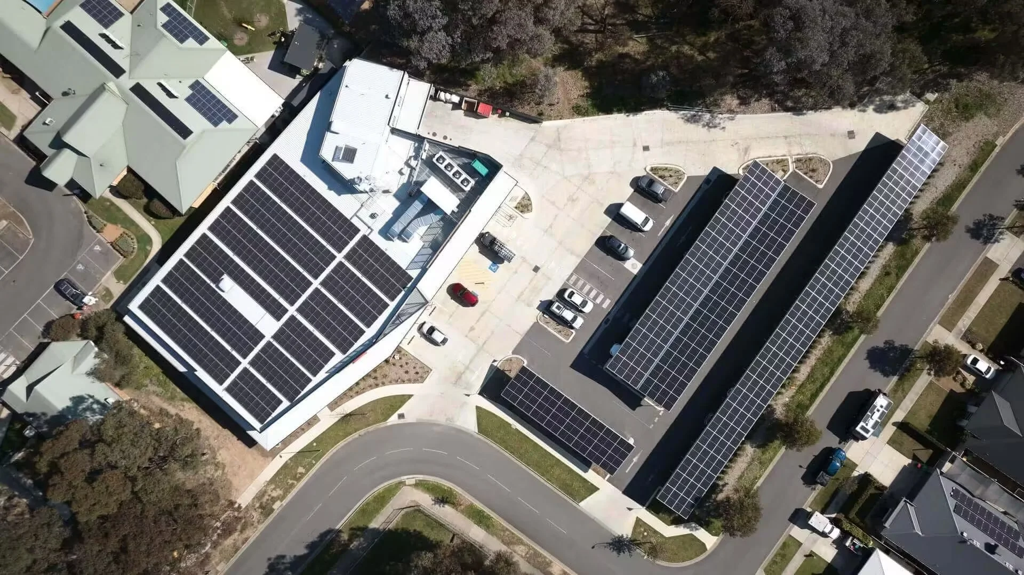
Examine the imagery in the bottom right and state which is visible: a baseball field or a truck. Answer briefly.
truck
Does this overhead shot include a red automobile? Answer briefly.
Yes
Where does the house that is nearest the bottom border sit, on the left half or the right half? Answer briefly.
right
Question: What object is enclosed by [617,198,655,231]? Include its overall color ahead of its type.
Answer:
white van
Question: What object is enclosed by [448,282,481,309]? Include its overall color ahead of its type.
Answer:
red car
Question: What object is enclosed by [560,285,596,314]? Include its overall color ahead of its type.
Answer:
white car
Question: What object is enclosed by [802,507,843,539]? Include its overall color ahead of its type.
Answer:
white truck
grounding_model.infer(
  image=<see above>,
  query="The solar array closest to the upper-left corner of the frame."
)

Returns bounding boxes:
[73,0,124,28]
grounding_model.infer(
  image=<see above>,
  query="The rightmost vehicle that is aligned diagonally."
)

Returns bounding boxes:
[960,352,997,380]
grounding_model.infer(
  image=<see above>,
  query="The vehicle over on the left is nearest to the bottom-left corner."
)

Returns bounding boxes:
[52,278,92,311]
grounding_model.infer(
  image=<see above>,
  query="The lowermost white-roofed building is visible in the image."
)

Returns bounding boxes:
[849,546,916,575]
